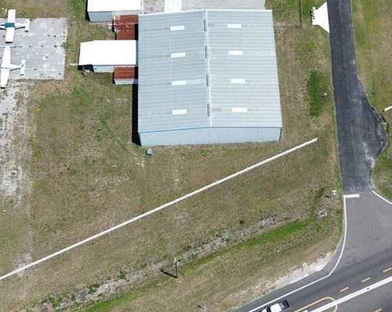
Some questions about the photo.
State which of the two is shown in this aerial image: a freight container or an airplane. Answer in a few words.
airplane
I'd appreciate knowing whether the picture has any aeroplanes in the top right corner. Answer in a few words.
No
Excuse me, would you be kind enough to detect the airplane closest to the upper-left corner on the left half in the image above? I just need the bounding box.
[0,9,33,41]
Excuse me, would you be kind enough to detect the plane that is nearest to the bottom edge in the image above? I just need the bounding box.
[0,46,29,87]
